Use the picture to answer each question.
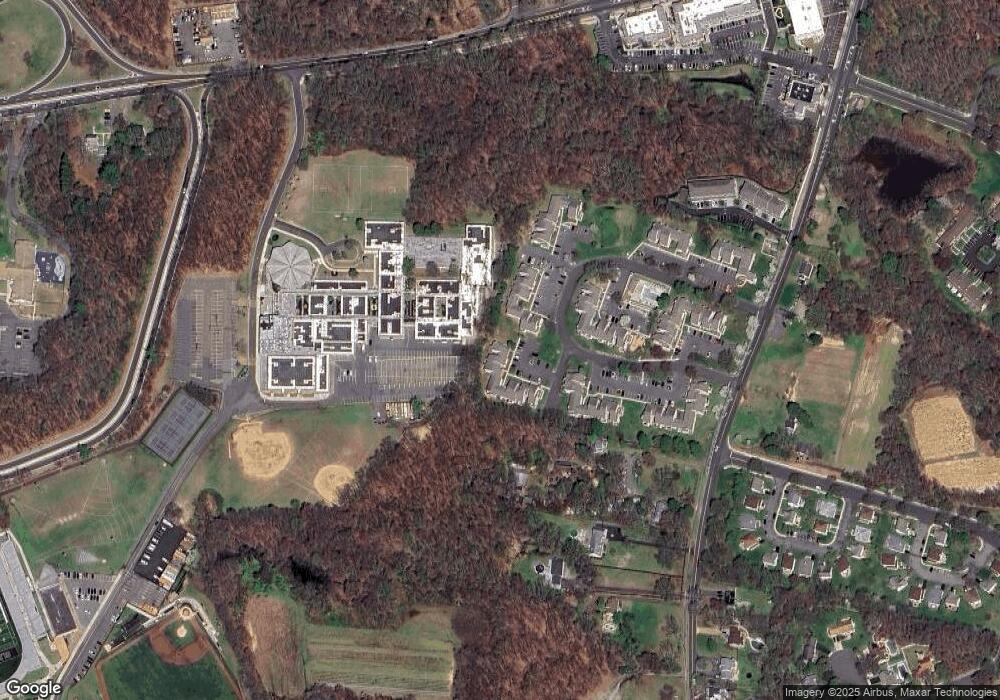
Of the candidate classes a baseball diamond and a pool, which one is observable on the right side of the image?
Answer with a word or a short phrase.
pool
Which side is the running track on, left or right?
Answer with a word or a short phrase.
left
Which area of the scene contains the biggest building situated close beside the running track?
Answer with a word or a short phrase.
bottom left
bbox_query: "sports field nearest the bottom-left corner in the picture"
[0,592,21,682]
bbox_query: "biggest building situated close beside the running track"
[41,585,78,638]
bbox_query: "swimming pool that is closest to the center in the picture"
[633,279,668,308]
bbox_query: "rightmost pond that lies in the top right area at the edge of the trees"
[861,142,946,201]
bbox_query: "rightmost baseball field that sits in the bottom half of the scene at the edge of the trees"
[314,465,355,507]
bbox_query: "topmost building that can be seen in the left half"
[205,4,237,23]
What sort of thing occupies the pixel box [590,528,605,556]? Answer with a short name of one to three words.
house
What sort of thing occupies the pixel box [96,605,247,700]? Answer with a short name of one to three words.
baseball field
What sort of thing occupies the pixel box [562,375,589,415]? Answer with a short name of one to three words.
building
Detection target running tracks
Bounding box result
[0,547,44,695]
